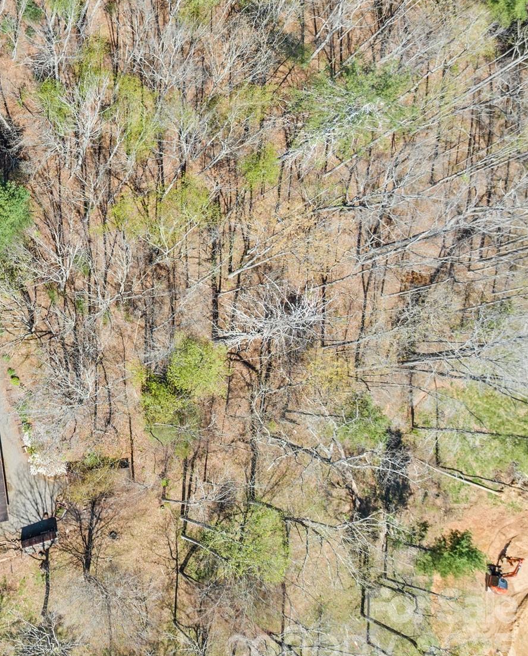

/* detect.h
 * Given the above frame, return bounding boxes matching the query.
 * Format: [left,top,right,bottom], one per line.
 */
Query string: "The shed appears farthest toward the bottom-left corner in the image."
[19,526,59,556]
